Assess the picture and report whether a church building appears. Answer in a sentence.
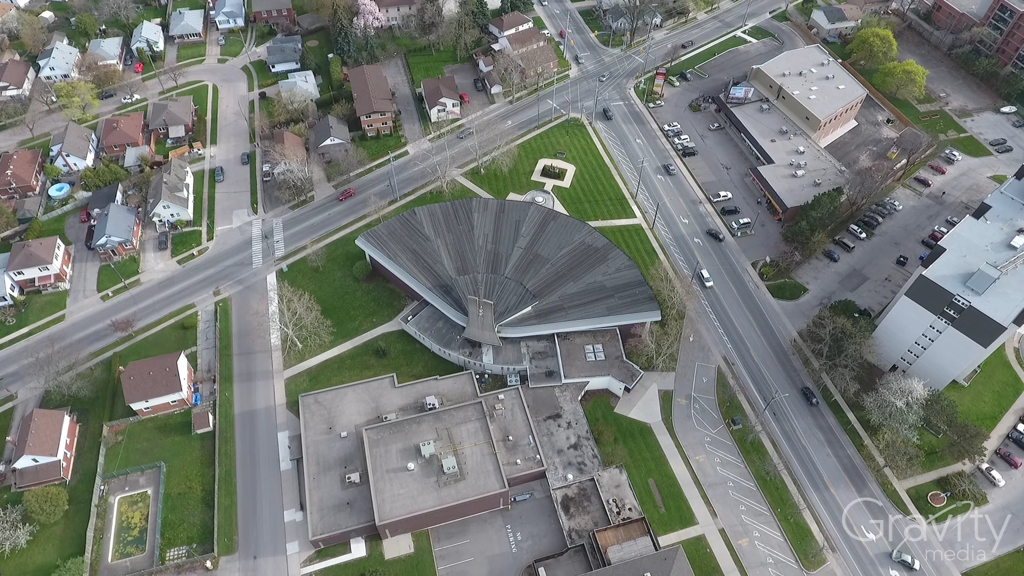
Yes, you can see a church building in this photo.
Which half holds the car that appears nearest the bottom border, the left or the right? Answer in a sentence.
The car that appears nearest the bottom border sits on the right side.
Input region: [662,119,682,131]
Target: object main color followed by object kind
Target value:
white vehicle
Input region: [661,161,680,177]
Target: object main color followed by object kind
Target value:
gray car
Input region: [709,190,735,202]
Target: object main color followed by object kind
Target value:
white vehicle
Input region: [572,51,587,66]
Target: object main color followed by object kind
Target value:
gray car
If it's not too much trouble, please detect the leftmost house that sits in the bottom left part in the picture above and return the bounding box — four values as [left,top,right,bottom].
[11,408,73,486]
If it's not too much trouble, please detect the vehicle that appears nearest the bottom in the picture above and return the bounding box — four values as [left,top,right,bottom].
[890,550,921,573]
